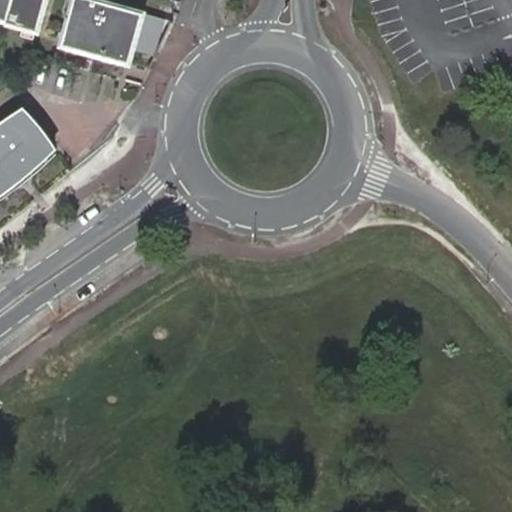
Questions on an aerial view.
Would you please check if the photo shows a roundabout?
Yes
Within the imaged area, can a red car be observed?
No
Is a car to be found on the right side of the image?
No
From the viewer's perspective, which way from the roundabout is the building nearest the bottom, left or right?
to its left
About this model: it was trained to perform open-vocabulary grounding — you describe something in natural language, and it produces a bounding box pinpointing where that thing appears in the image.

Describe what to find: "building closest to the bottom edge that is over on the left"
[0,106,56,200]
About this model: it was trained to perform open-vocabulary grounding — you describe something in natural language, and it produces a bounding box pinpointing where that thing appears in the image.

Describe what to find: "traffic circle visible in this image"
[114,20,376,240]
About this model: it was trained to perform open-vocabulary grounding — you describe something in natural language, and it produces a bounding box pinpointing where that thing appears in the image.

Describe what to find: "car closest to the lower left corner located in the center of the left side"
[76,283,96,300]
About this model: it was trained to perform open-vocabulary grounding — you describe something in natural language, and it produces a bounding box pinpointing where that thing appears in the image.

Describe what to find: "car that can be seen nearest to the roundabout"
[77,205,100,225]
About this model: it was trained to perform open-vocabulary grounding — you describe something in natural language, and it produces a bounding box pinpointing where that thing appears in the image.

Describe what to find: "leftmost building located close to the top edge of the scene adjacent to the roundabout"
[58,0,146,65]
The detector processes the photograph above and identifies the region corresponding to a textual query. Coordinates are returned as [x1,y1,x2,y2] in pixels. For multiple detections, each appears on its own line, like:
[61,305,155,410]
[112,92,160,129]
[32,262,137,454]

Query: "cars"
[34,66,48,86]
[76,283,96,300]
[77,205,100,225]
[56,68,66,89]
